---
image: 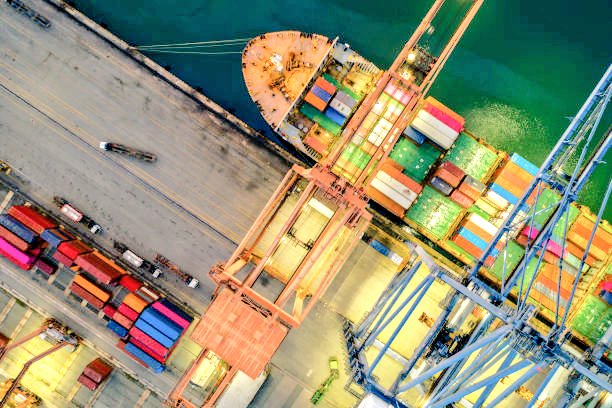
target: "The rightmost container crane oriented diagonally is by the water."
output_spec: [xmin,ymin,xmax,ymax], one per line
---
[336,66,612,408]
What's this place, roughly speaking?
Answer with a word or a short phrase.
port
